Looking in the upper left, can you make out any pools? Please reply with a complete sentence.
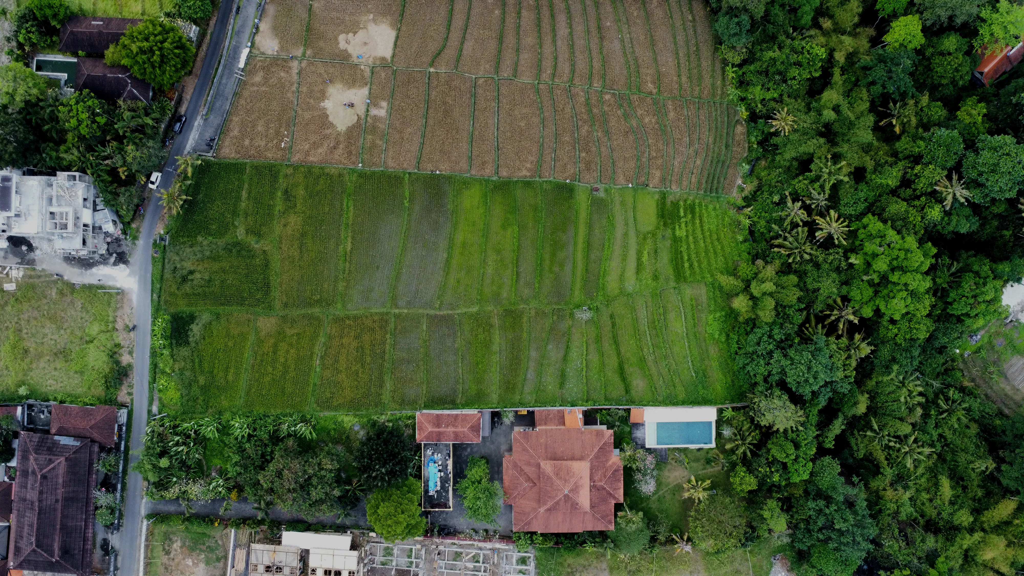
Yes, looking in the upper left, one can make out a pool.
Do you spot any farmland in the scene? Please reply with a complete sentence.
Yes, there is farmland in the image.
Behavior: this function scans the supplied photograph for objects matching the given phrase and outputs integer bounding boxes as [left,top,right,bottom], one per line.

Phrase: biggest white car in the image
[148,171,161,190]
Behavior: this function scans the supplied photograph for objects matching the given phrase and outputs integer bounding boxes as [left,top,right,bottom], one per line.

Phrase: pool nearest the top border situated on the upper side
[34,57,76,91]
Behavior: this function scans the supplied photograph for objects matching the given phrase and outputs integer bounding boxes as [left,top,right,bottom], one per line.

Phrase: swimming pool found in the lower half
[645,420,716,448]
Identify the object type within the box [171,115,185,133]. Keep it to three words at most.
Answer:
car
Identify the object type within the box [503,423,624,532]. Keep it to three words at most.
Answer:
house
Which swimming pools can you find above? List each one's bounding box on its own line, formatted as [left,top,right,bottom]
[645,420,716,448]
[34,57,76,91]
